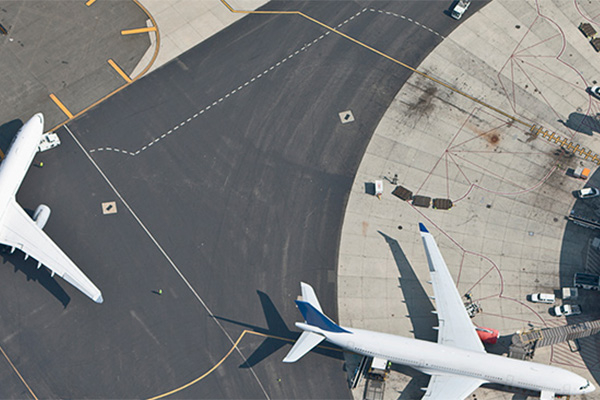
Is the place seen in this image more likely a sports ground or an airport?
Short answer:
airport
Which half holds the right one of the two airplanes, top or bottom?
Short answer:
bottom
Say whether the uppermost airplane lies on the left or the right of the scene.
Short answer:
left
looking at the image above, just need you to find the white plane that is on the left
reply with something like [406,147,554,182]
[0,114,103,303]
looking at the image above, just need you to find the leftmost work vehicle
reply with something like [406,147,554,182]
[39,134,64,153]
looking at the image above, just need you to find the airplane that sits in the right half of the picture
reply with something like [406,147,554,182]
[284,221,595,400]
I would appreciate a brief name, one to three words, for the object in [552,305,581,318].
vehicle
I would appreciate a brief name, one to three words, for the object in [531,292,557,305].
vehicle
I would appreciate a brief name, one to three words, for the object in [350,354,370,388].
work vehicle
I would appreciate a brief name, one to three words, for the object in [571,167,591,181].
work vehicle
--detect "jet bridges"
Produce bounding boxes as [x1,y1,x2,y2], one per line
[506,319,600,361]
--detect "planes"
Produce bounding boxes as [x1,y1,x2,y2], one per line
[284,221,595,400]
[0,114,103,303]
